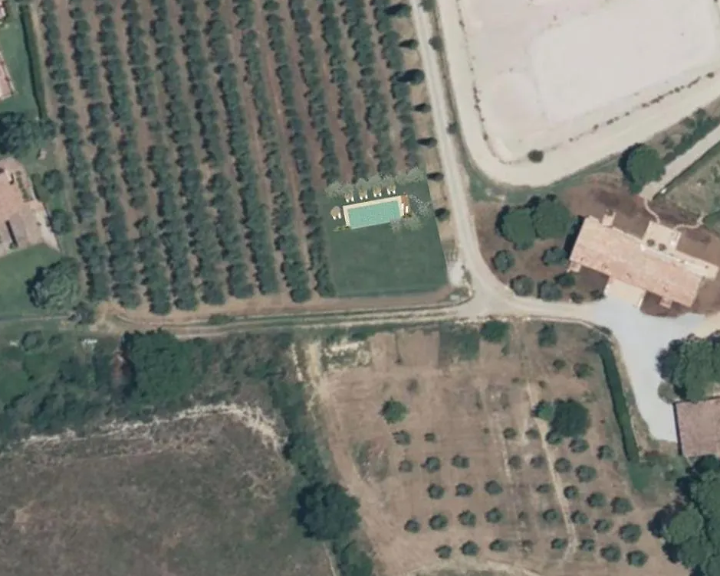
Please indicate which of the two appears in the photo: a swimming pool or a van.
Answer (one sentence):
The image shows a swimming pool.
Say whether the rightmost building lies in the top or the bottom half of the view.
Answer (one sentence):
You can find the rightmost building in the bottom half.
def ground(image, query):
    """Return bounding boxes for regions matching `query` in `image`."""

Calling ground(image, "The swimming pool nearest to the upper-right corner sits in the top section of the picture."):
[343,195,405,230]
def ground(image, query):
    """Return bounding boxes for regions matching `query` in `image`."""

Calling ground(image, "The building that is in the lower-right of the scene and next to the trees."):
[676,399,720,457]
